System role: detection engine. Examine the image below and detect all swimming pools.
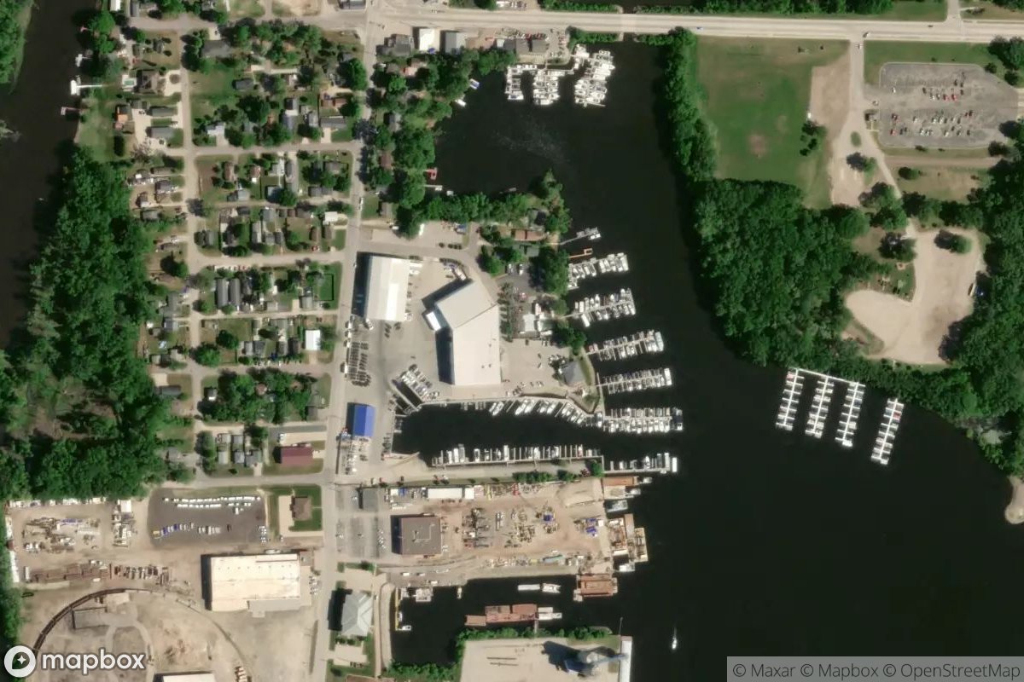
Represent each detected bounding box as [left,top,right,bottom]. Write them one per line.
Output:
[122,75,136,90]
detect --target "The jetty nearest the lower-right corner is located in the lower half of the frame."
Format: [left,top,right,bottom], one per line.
[872,399,904,462]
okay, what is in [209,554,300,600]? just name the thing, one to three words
building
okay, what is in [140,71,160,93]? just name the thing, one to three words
house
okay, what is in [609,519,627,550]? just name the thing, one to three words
ship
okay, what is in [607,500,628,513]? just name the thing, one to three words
vessel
